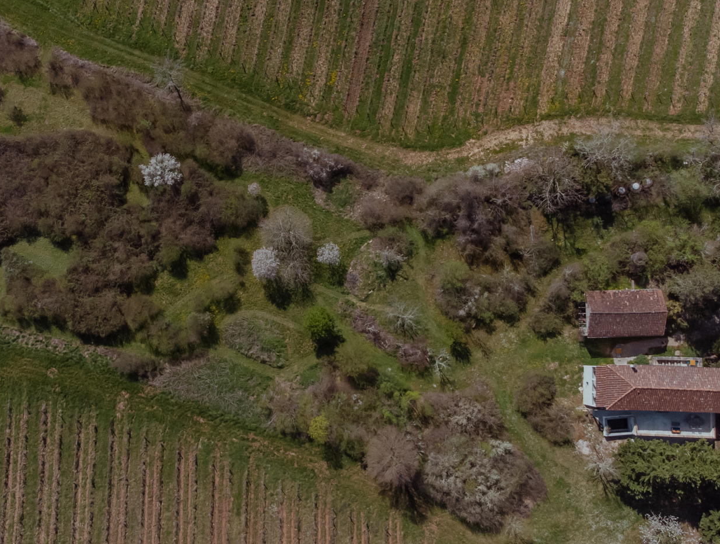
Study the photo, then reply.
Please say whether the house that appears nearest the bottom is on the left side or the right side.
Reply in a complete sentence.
It is on the right.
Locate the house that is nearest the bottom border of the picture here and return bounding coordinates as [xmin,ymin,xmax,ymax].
[584,363,720,414]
